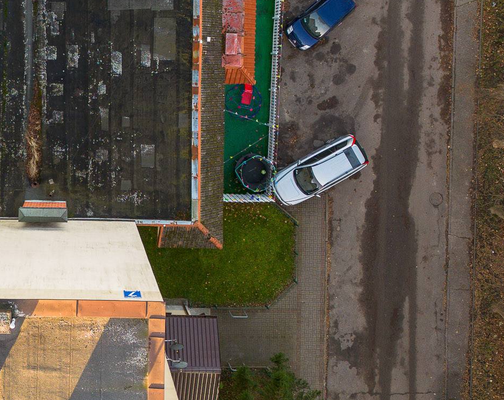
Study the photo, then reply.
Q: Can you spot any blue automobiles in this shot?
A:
Yes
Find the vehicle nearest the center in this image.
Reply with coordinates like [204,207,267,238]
[273,135,369,206]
